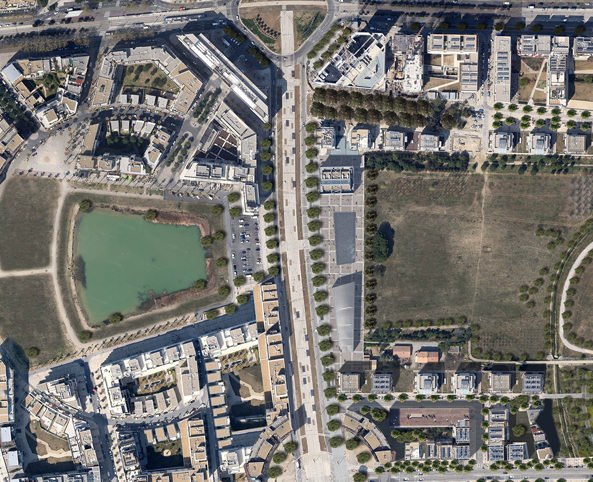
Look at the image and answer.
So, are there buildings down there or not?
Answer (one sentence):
Yes, this view includes a building.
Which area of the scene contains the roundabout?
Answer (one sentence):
Look in the top portion of the view to spot the roundabout.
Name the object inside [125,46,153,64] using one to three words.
building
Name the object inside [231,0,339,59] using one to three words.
roundabout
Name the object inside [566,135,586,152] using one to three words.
house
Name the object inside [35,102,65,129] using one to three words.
building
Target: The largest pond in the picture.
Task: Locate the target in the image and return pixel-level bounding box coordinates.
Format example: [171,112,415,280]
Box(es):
[78,210,206,325]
